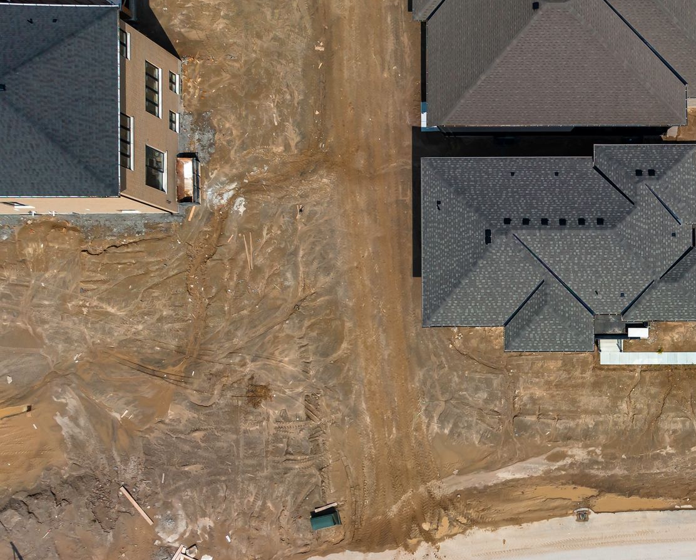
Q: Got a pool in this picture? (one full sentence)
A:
No, there's no pool here.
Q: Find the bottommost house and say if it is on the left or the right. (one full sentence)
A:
The bottommost house appears in the right half of the scene.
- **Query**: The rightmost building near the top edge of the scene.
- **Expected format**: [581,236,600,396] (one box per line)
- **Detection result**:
[412,0,696,134]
